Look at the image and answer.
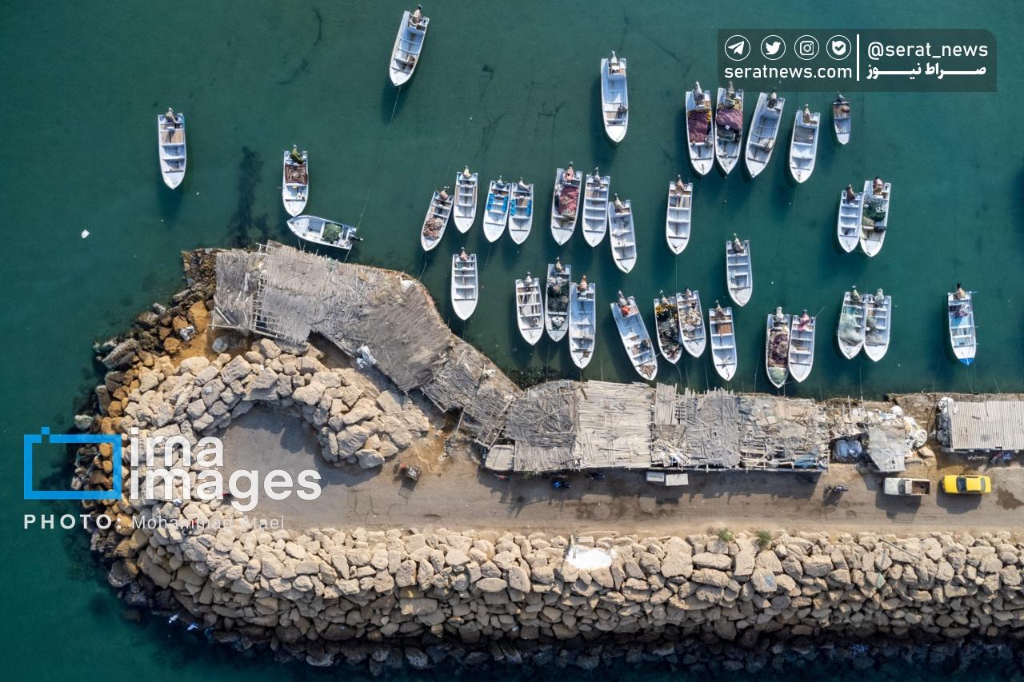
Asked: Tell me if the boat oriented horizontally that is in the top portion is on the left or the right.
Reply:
left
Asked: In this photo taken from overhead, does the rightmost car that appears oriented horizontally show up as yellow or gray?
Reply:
yellow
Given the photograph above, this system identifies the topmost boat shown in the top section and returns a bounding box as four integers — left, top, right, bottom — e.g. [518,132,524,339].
[390,5,428,88]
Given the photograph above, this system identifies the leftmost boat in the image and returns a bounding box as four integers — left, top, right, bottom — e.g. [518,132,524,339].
[158,105,186,190]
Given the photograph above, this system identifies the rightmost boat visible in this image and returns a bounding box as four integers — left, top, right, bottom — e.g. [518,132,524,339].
[945,284,978,365]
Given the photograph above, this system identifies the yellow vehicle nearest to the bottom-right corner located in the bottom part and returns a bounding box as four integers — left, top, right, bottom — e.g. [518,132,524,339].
[941,475,992,497]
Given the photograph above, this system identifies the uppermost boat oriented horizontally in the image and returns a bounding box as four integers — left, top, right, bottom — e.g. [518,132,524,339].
[287,215,361,249]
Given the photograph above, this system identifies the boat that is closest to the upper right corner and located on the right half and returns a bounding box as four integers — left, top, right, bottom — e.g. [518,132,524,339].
[832,93,851,146]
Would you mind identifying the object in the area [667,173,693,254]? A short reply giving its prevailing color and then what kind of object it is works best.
white boat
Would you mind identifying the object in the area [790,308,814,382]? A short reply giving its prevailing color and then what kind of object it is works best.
white boat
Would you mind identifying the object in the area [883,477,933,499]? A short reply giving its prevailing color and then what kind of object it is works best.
white truck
